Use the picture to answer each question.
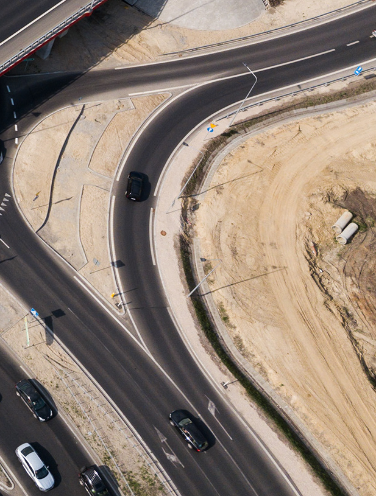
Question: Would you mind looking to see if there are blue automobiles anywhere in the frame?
No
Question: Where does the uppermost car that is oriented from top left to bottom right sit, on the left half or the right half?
left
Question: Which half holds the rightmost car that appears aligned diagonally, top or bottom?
bottom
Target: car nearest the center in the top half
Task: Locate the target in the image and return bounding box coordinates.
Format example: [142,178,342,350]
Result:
[126,173,145,205]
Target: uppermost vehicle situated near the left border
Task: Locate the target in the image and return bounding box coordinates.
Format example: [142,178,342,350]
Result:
[13,378,54,424]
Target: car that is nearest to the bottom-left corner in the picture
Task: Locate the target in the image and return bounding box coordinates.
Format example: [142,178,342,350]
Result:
[13,441,56,494]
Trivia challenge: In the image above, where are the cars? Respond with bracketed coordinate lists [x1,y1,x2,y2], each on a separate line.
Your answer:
[166,410,210,455]
[13,378,54,424]
[13,441,56,494]
[126,173,145,205]
[75,464,115,496]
